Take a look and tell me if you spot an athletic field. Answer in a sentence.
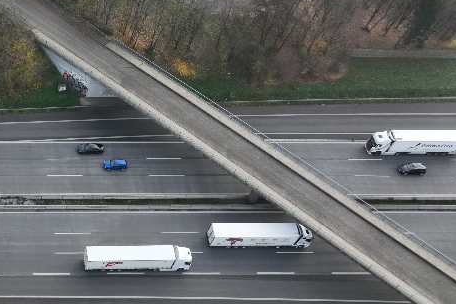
No, the scene contains no athletic field.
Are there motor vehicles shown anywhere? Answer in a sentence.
Yes, there's a motor vehicle here.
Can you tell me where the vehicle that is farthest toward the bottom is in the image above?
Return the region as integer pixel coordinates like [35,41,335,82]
[83,246,193,273]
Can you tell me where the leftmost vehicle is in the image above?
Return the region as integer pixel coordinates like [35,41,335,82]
[77,142,105,154]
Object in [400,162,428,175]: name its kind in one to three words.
vehicle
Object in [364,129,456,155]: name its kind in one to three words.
truck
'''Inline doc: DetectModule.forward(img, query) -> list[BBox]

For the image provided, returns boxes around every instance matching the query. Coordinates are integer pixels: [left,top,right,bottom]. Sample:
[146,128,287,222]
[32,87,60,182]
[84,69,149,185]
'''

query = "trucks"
[364,129,456,155]
[83,246,193,273]
[206,223,317,250]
